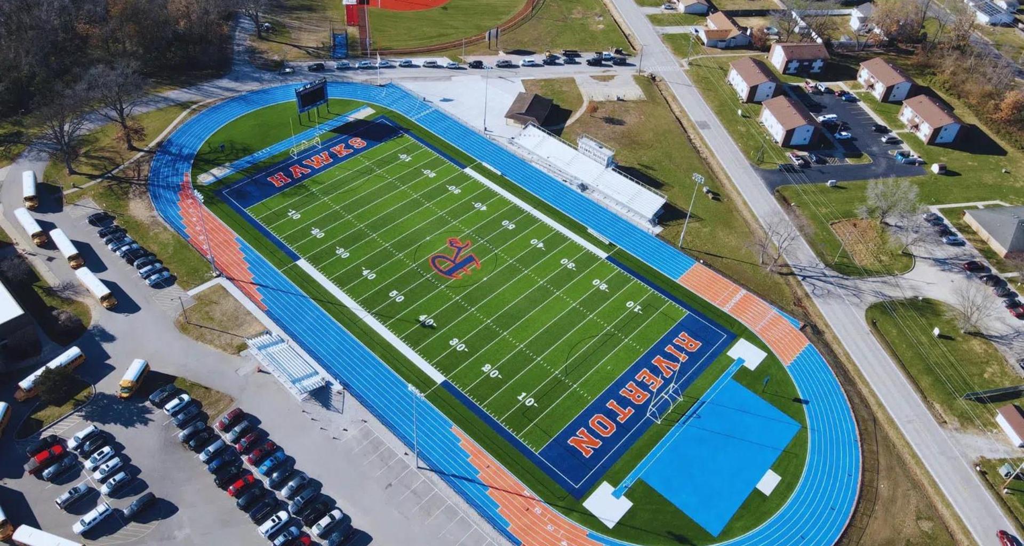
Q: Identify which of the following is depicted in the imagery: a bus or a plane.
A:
bus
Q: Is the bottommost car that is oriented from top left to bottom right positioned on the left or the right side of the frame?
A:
right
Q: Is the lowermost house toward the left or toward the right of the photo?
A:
right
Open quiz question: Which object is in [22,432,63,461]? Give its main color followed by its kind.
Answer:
black truck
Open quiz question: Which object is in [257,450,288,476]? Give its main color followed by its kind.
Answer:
blue car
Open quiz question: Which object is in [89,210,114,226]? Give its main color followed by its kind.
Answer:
black car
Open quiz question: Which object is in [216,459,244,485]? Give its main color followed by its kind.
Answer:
black car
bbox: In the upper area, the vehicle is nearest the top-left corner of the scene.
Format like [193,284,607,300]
[23,171,42,212]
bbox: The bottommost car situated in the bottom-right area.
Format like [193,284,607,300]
[994,526,1019,546]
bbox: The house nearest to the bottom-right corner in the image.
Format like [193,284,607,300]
[994,400,1024,448]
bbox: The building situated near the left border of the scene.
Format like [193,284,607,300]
[0,280,39,357]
